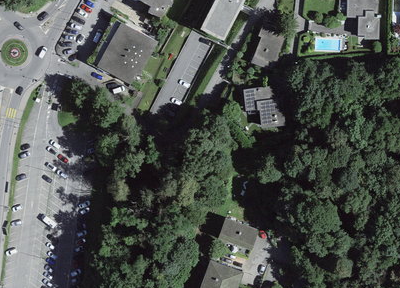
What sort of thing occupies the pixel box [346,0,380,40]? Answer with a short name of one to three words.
house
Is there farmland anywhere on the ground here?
No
